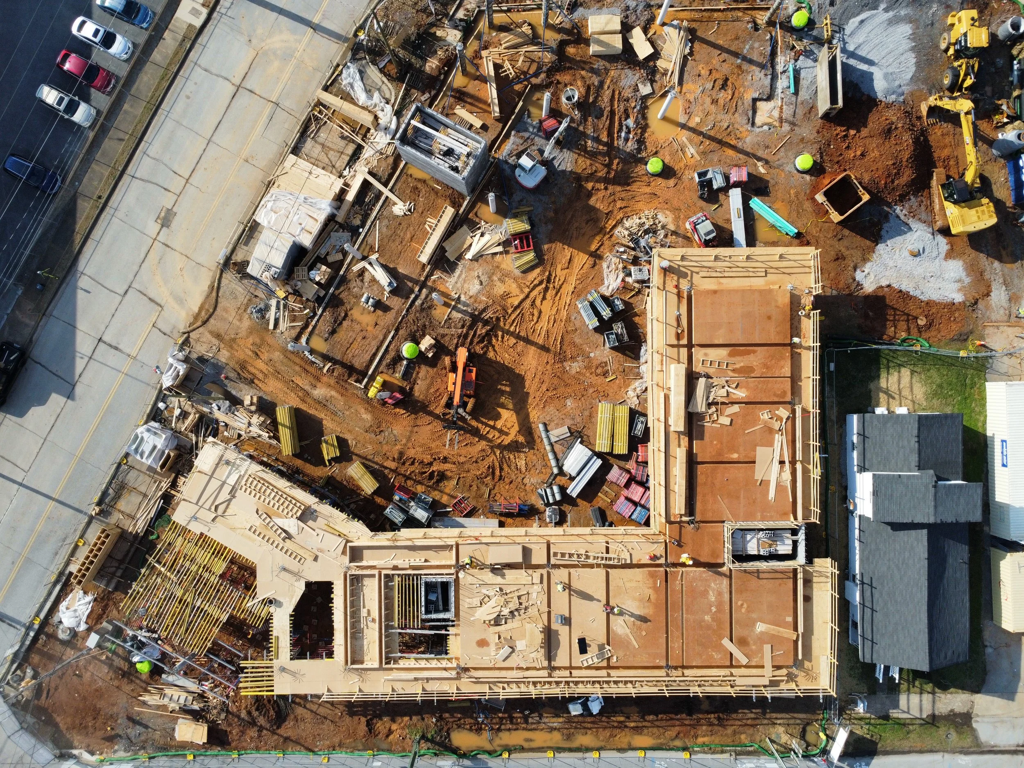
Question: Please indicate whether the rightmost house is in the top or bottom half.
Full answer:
The rightmost house is in the bottom half of the image.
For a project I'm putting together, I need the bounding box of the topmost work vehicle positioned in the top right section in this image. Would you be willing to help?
[934,10,994,105]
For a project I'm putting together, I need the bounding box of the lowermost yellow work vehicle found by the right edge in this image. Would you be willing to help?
[918,96,996,238]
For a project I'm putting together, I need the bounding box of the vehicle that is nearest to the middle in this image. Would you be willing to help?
[441,348,486,450]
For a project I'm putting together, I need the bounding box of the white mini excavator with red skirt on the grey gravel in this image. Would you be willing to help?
[515,114,572,191]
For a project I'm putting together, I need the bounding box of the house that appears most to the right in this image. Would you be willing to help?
[839,402,982,672]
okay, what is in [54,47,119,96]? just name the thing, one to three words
car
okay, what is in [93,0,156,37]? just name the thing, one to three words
car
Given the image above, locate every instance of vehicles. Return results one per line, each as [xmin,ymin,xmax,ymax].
[70,14,135,63]
[0,148,67,197]
[54,47,119,96]
[934,10,994,105]
[515,114,572,191]
[93,0,156,37]
[918,96,996,238]
[31,80,100,130]
[684,213,720,247]
[441,348,486,450]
